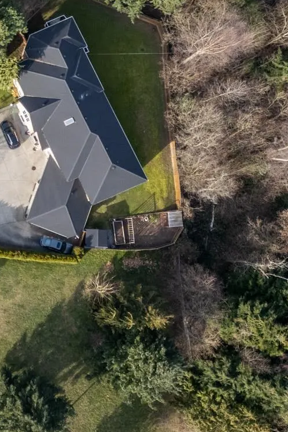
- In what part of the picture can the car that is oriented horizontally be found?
left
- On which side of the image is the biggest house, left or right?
left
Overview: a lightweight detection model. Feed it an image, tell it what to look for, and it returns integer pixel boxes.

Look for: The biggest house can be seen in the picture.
[14,14,149,239]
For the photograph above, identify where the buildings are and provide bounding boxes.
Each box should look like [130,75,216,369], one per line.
[161,209,183,227]
[14,14,149,239]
